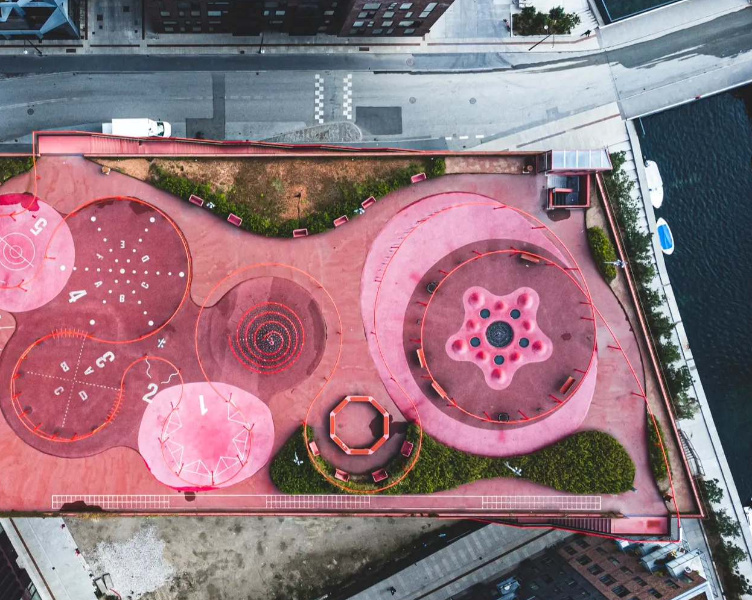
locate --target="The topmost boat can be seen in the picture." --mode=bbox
[645,159,663,208]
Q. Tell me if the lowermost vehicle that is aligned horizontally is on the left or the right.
left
